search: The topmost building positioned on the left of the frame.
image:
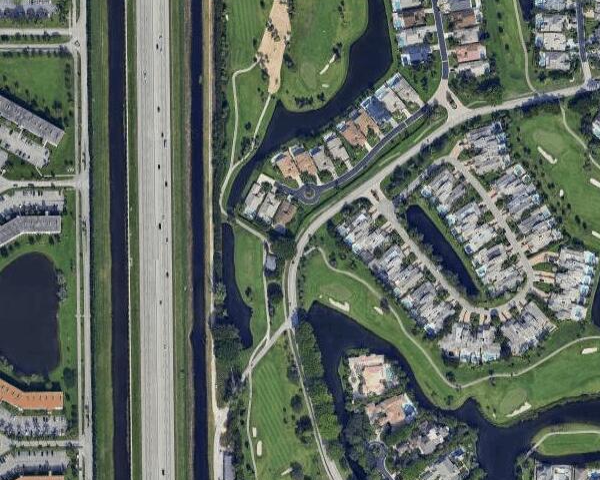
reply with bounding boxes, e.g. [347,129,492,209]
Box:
[0,94,64,145]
